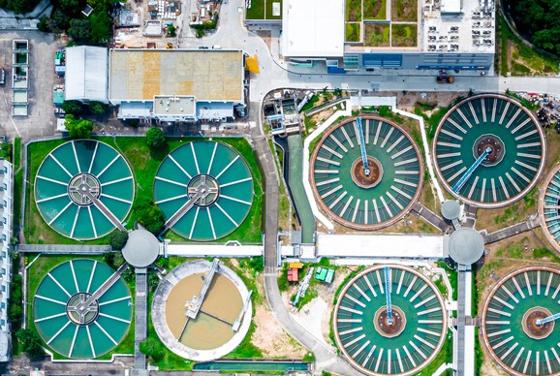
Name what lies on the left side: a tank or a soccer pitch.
tank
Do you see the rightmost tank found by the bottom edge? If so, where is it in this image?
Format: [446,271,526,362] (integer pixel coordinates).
[152,257,254,361]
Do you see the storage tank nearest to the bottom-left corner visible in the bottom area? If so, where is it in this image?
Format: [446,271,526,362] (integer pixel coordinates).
[33,259,134,358]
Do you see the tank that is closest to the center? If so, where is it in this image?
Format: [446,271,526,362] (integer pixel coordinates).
[154,141,254,242]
